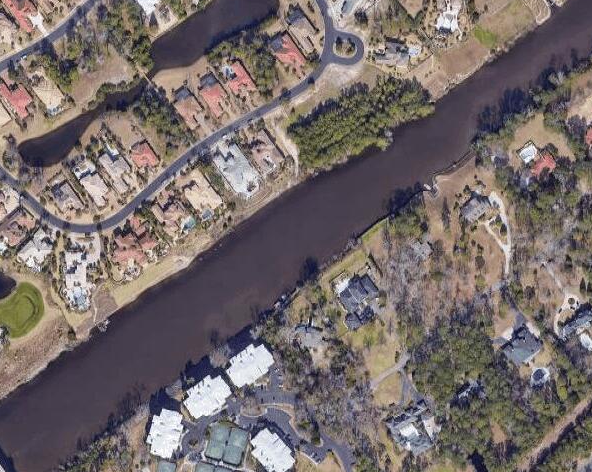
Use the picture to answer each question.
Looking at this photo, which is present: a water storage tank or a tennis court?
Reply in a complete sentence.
It is a tennis court that can be seen here.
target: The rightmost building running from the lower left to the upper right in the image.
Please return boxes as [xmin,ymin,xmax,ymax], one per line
[561,313,592,342]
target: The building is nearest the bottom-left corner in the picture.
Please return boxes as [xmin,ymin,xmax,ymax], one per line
[148,408,183,456]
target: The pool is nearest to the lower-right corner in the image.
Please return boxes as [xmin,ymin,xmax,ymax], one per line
[531,366,549,385]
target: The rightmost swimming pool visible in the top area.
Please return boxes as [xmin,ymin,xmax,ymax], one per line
[517,141,539,163]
